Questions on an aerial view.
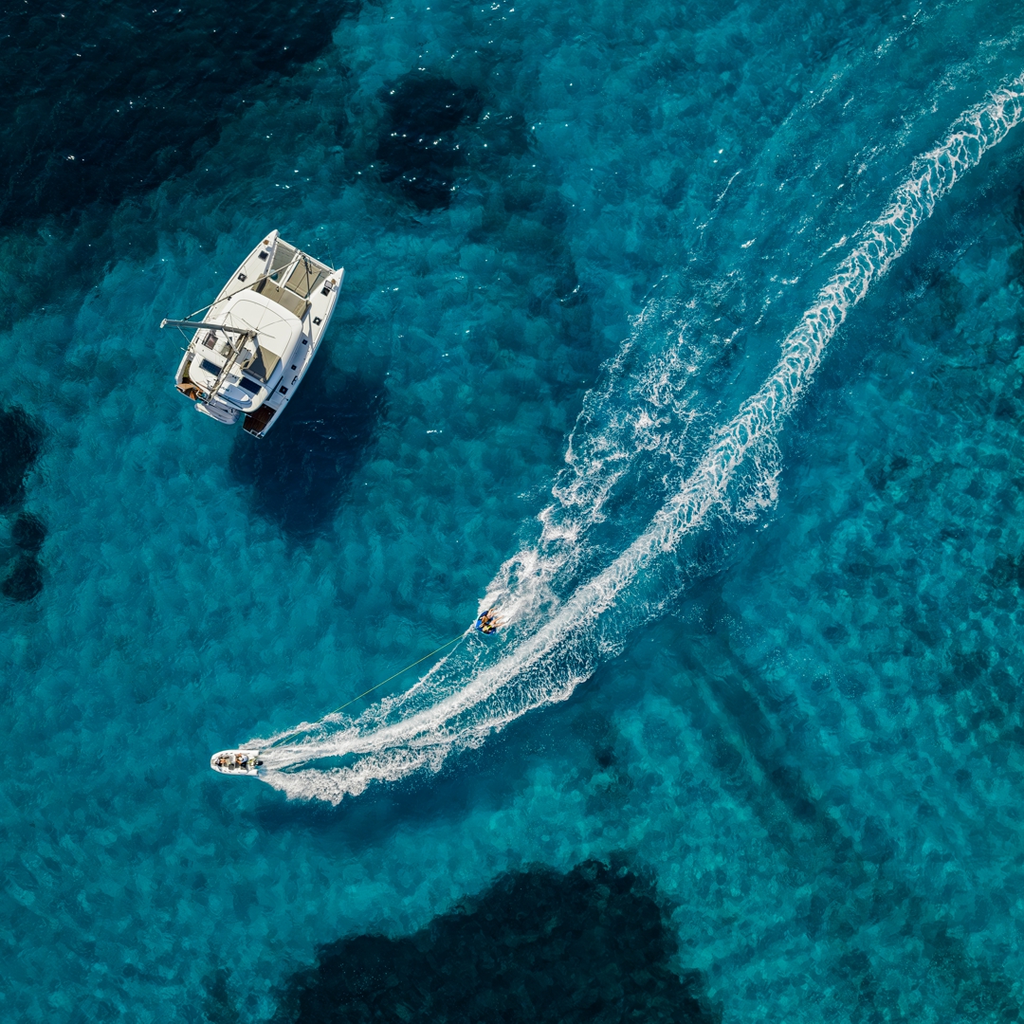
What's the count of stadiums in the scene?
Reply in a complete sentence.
I count no stadiums.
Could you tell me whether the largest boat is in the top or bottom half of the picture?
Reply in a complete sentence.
The largest boat is in the top half of the image.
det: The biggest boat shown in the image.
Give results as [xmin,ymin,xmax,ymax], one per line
[158,227,348,440]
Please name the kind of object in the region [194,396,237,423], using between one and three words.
boat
